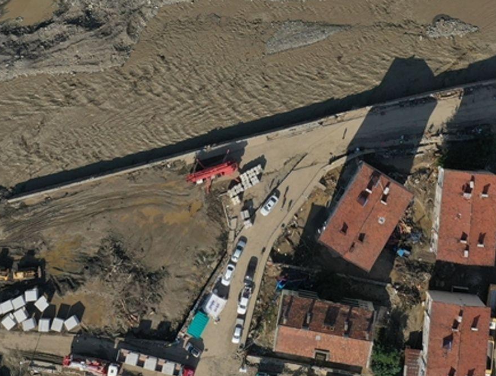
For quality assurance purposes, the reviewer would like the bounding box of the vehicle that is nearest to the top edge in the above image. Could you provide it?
[259,190,280,217]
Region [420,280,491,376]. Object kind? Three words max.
house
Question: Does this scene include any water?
Yes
